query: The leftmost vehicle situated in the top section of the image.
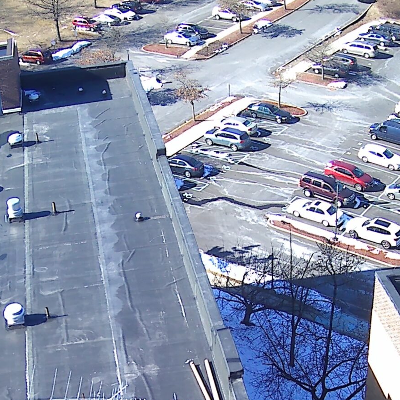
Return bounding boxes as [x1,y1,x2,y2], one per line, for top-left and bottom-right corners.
[18,45,52,64]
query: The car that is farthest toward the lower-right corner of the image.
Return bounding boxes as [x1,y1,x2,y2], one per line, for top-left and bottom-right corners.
[344,215,400,248]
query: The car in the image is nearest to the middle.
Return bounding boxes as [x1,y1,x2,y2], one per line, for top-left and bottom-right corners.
[169,153,208,177]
